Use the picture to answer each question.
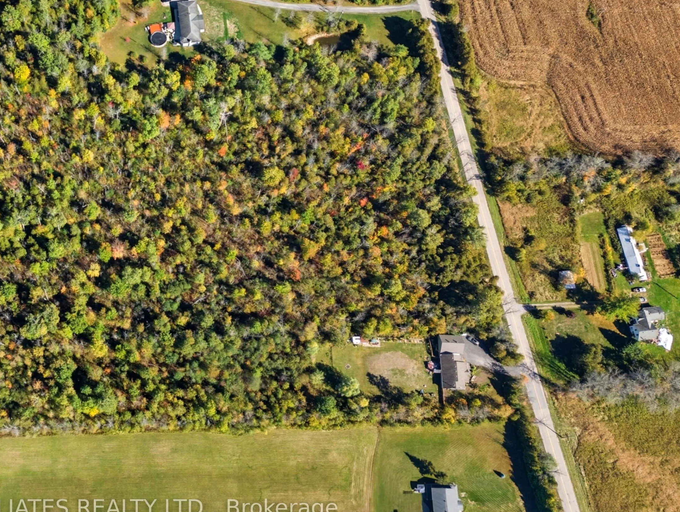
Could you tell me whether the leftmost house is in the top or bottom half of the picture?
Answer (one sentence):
It is in the top half that the leftmost house appears.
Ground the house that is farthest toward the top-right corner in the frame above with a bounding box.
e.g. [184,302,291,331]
[617,226,648,281]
